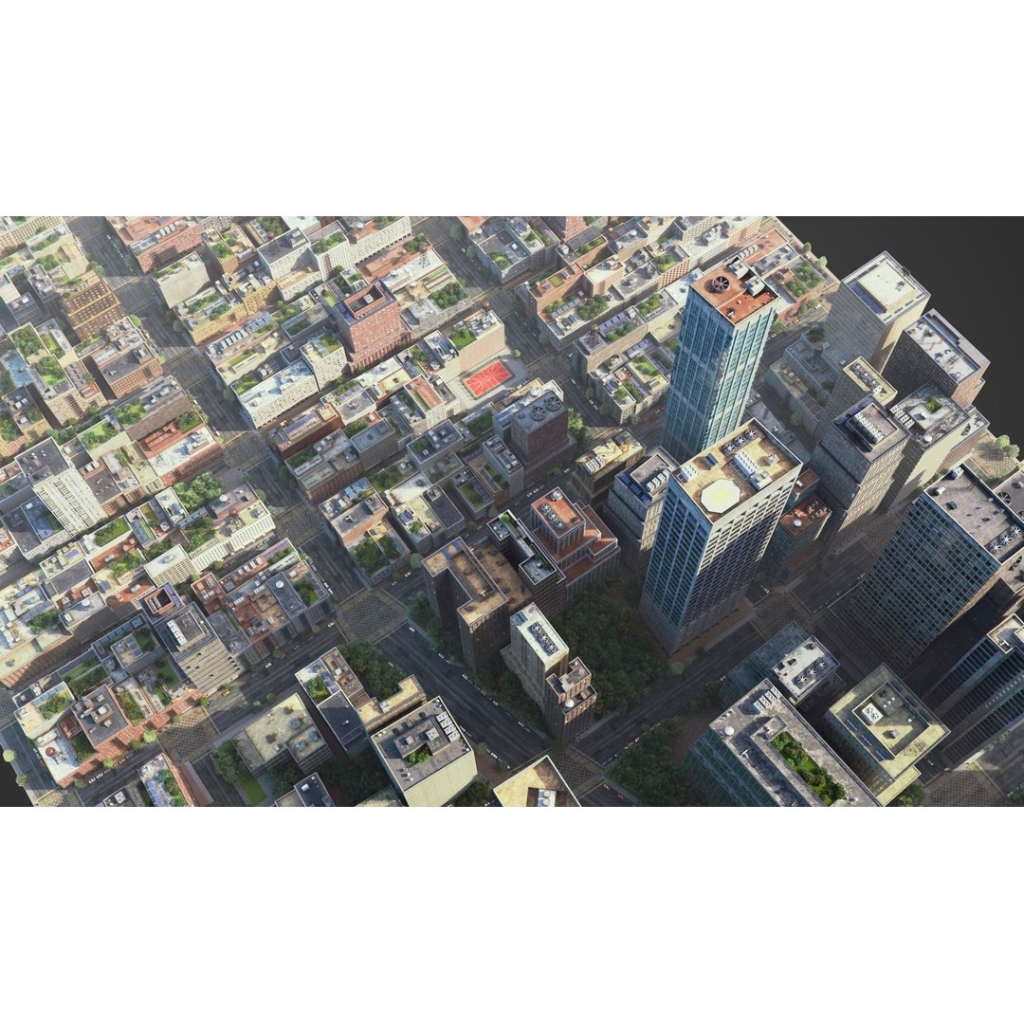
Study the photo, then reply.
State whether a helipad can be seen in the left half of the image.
No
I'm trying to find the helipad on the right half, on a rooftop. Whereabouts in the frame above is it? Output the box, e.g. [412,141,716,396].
[705,474,743,508]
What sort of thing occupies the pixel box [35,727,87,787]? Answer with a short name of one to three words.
building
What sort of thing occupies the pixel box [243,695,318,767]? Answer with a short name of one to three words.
building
